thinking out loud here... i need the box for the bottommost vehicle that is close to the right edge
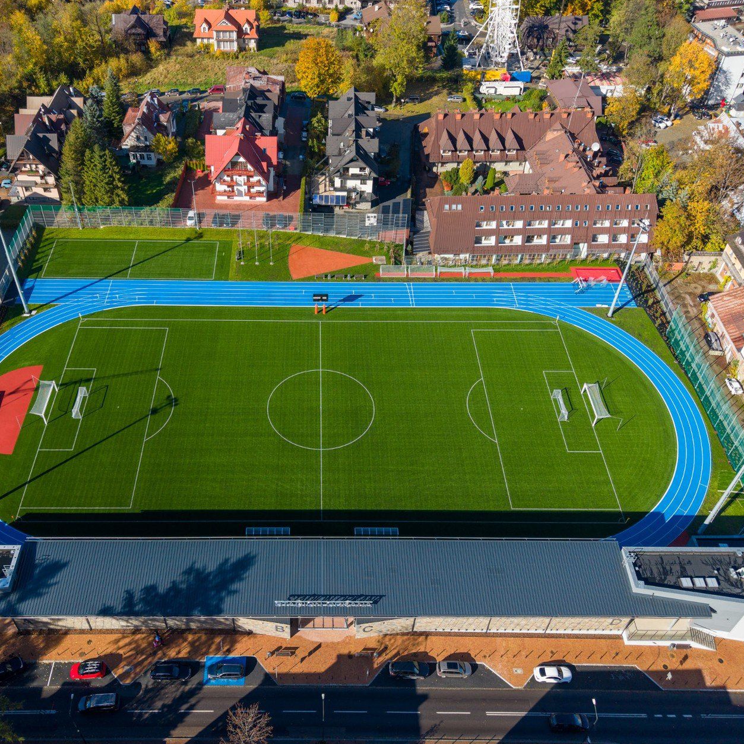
[723,373,744,395]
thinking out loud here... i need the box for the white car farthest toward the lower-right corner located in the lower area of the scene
[535,663,574,682]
